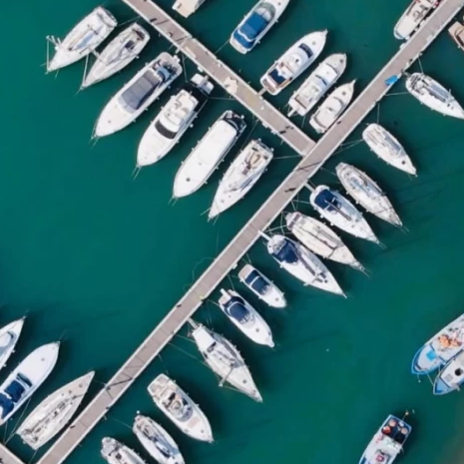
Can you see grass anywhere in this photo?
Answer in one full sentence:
No, there is no grass in the image.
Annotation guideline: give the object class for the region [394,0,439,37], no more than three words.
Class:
boat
